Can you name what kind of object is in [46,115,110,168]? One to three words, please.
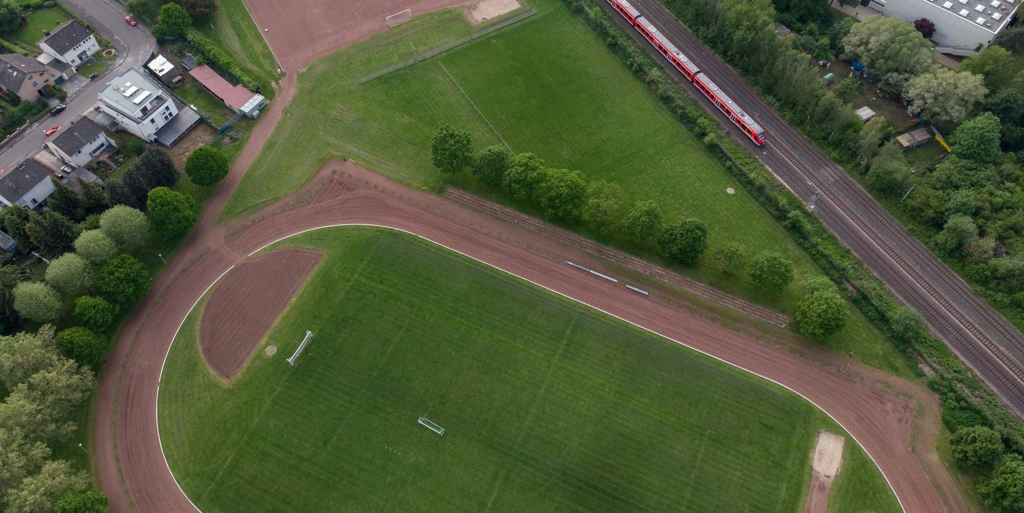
house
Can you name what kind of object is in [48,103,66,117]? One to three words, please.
car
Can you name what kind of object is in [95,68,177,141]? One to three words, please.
house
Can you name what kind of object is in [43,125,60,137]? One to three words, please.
vehicle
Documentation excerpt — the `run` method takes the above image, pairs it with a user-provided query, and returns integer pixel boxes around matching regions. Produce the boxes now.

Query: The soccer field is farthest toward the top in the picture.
[242,0,473,72]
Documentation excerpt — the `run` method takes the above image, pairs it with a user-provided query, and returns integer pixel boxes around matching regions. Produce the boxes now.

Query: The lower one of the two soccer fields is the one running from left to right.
[157,224,904,513]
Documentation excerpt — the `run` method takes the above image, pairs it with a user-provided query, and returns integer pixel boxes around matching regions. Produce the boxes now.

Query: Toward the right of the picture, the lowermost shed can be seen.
[893,127,931,152]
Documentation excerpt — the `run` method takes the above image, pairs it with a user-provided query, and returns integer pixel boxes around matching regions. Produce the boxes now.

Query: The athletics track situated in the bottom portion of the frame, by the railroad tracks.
[115,176,948,513]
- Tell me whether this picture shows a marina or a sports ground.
sports ground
